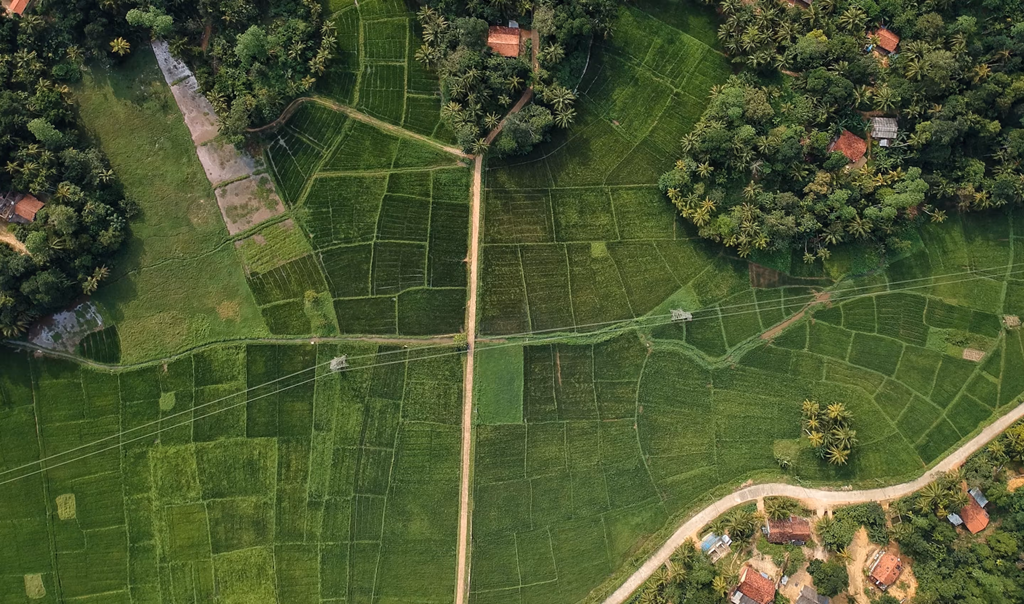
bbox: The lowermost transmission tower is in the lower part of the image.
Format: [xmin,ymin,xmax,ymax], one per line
[328,353,355,372]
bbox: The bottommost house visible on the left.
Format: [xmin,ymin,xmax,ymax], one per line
[0,190,49,225]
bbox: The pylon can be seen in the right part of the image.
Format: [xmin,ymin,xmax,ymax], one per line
[666,308,692,323]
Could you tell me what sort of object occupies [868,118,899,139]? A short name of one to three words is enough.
building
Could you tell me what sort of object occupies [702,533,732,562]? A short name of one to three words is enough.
house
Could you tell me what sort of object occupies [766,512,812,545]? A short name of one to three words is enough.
house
